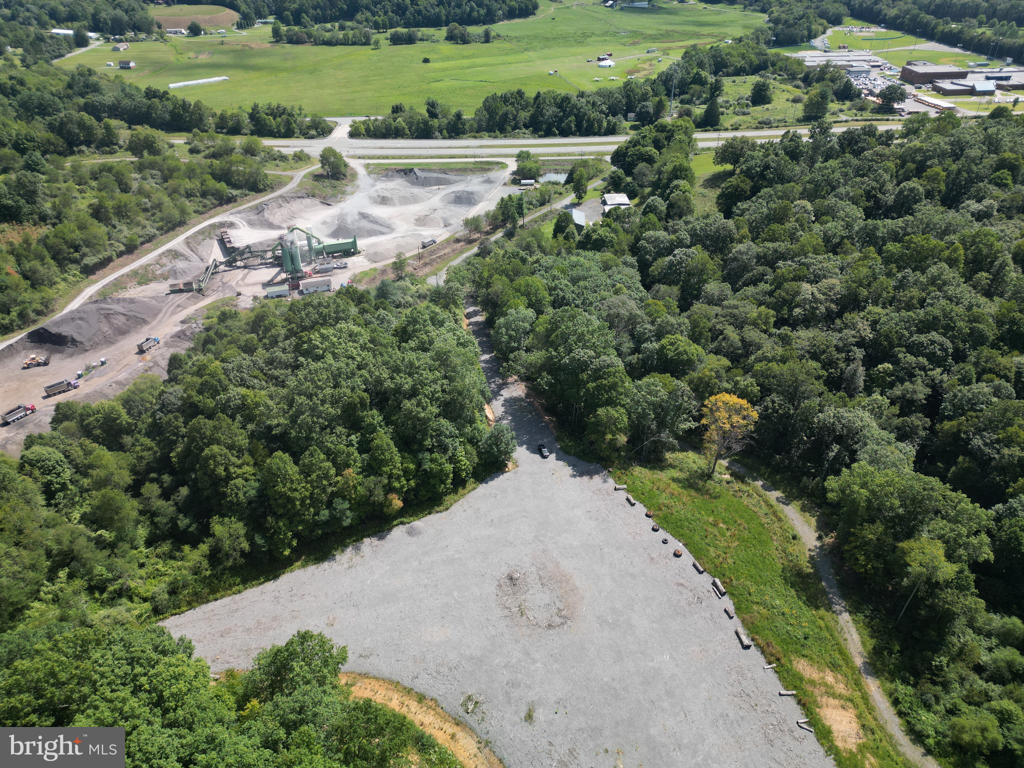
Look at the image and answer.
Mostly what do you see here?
trees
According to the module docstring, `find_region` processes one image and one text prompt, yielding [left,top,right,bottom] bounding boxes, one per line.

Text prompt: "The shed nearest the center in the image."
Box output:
[534,209,587,236]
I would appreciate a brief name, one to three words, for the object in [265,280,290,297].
shed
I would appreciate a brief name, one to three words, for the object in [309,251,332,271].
building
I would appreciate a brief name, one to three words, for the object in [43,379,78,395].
vehicle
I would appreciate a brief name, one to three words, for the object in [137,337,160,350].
vehicle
